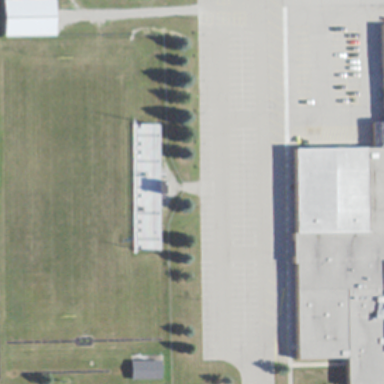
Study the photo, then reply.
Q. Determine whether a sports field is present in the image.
Yes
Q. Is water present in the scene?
No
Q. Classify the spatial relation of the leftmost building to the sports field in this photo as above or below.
above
